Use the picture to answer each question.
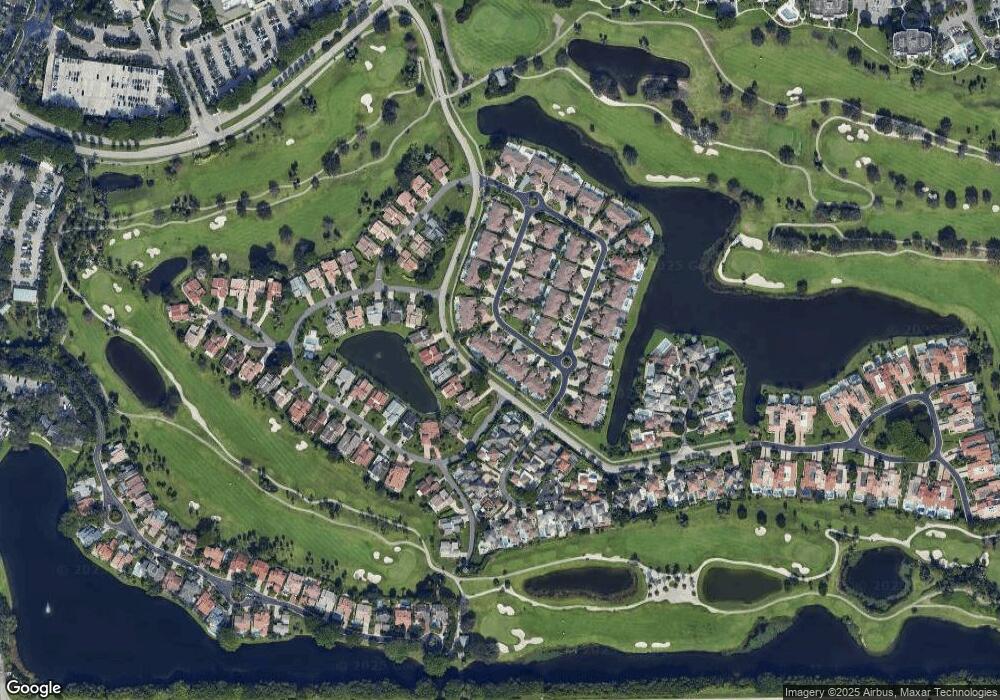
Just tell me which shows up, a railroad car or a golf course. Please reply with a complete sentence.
Visible in the photo is a golf course.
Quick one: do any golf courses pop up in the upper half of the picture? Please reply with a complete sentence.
Yes, there is a golf course in the upper half of the picture.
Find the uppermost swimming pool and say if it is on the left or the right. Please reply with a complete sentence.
The uppermost swimming pool sits on the right side.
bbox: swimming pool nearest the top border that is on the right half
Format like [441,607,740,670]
[778,0,801,22]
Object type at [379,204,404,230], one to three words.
house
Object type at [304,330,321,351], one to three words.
swimming pool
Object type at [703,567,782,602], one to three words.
pond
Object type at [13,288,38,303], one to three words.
shed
